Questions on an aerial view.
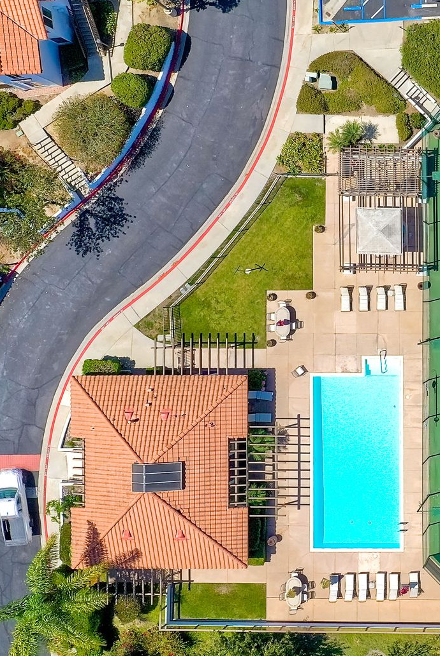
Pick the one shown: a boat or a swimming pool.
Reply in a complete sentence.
There is a swimming pool in the scene.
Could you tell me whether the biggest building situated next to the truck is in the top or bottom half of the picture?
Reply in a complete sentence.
The biggest building situated next to the truck is in the bottom half of the image.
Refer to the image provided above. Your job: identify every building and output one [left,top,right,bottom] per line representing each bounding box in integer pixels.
[0,0,68,88]
[68,373,249,571]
